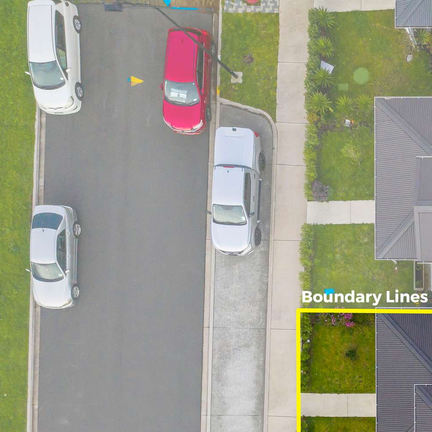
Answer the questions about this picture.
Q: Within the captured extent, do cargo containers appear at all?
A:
No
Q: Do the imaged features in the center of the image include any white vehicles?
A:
Yes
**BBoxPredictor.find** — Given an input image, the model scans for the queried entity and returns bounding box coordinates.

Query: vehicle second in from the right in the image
[155,26,217,133]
